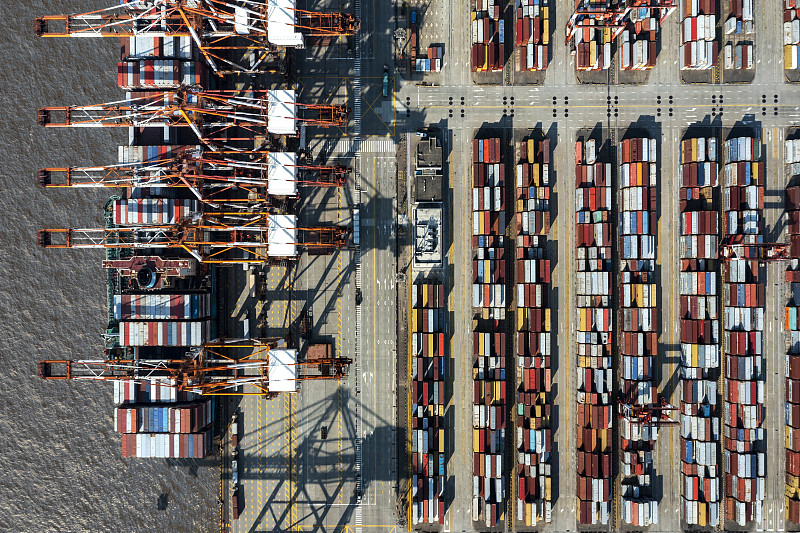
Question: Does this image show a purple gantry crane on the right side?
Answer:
No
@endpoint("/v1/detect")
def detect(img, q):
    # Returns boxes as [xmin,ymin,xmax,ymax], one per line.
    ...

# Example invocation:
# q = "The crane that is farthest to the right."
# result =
[720,238,795,261]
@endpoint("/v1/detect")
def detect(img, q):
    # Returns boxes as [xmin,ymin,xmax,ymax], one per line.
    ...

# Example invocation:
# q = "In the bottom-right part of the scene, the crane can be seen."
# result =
[615,394,679,423]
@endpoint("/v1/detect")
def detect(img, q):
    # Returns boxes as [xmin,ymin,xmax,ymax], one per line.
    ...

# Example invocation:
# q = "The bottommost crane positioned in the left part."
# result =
[37,326,352,400]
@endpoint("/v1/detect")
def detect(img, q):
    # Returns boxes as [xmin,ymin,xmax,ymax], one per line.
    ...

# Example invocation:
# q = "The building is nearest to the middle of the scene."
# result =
[412,202,443,269]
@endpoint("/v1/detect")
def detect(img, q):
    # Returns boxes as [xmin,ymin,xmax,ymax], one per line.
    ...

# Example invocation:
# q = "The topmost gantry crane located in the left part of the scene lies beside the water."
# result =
[36,0,351,91]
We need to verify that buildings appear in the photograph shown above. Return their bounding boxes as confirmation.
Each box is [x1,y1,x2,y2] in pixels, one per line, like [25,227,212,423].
[416,135,442,171]
[412,202,443,269]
